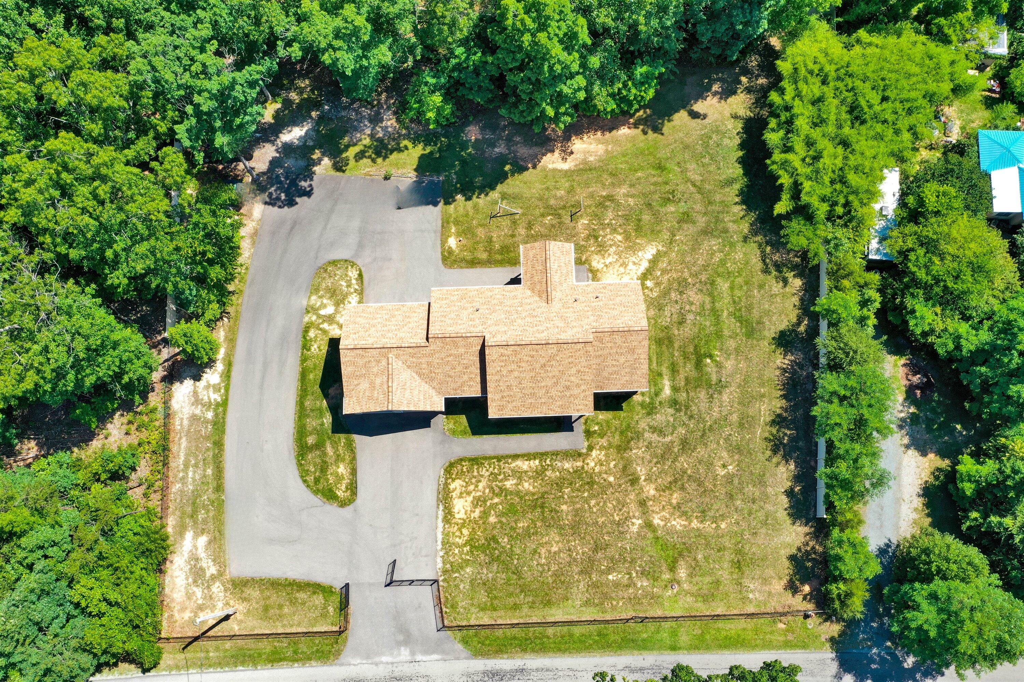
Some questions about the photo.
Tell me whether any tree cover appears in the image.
Yes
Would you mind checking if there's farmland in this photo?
No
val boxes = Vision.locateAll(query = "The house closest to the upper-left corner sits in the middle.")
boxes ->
[337,240,648,419]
